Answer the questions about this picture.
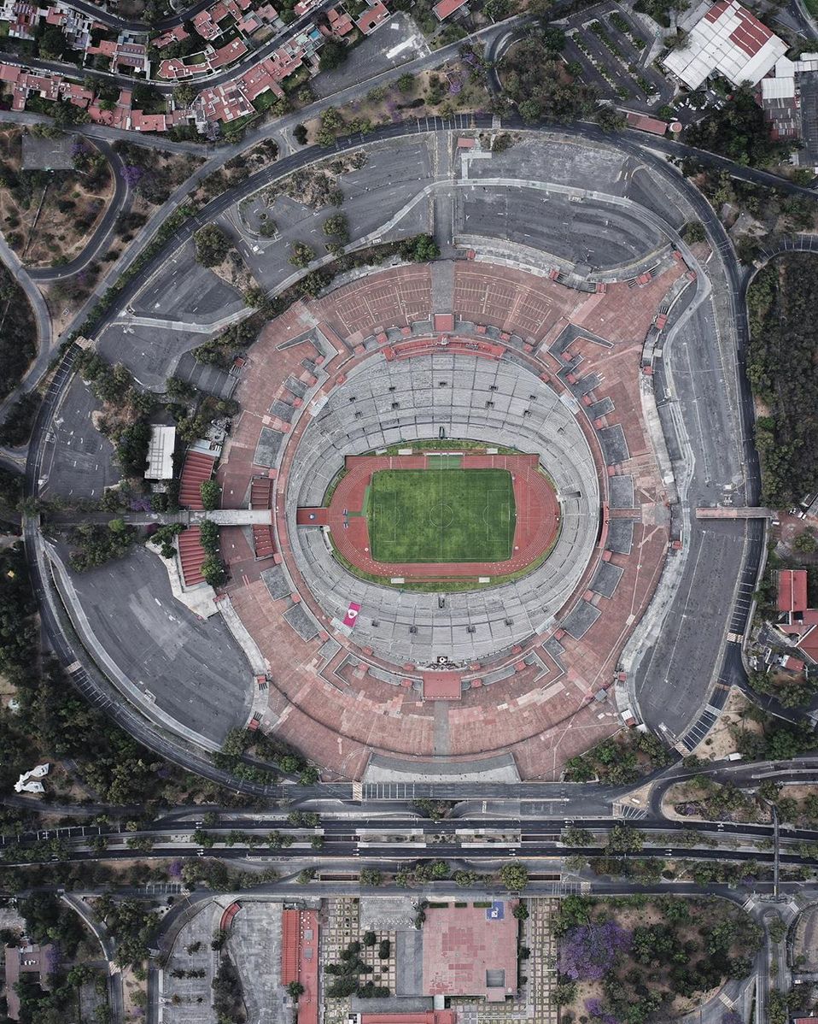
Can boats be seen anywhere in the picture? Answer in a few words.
No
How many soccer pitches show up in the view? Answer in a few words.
1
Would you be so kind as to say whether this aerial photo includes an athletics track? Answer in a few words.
Yes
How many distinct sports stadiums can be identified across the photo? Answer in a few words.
1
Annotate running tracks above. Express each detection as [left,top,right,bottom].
[329,450,561,581]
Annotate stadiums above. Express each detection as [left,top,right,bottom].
[175,258,691,782]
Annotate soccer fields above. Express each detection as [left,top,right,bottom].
[366,469,517,563]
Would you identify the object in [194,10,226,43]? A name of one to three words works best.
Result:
house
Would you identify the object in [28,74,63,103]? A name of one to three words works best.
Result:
house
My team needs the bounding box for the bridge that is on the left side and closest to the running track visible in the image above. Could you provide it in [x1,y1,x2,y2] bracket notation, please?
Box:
[175,510,273,526]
